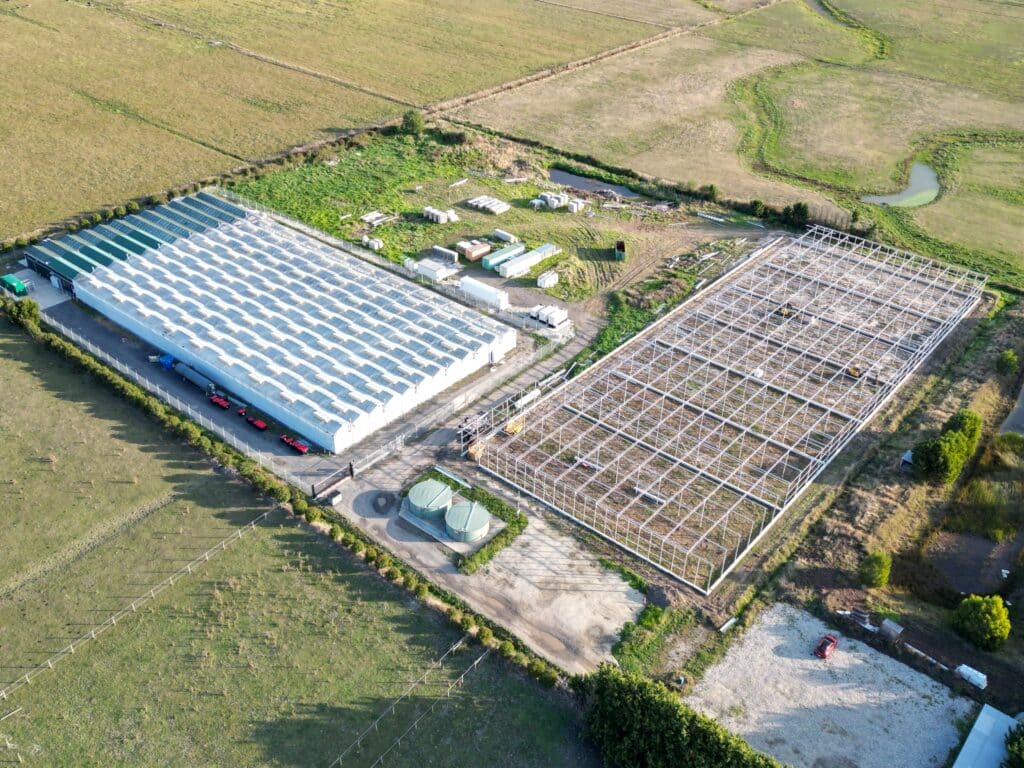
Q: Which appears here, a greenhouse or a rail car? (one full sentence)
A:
The image shows a greenhouse.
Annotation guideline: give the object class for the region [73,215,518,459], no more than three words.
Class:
greenhouse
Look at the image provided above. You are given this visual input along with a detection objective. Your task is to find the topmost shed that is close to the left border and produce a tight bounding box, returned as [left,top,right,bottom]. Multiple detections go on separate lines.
[25,192,252,298]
